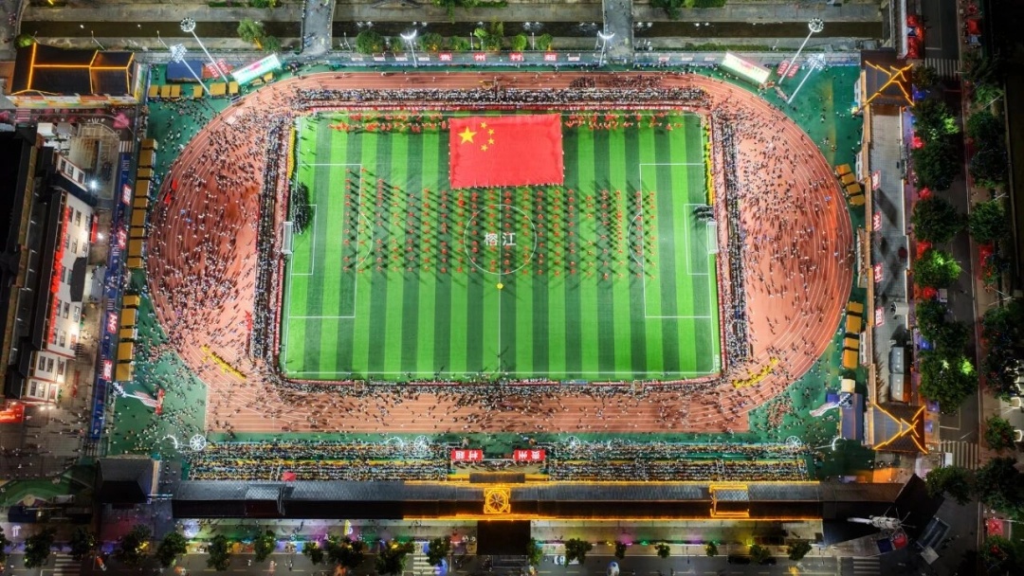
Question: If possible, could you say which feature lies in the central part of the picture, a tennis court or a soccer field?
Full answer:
You can see a soccer field in the central part of the picture.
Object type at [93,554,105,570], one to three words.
vehicle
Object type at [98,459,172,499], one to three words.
building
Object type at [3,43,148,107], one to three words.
building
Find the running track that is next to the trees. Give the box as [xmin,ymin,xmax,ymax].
[151,72,849,436]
